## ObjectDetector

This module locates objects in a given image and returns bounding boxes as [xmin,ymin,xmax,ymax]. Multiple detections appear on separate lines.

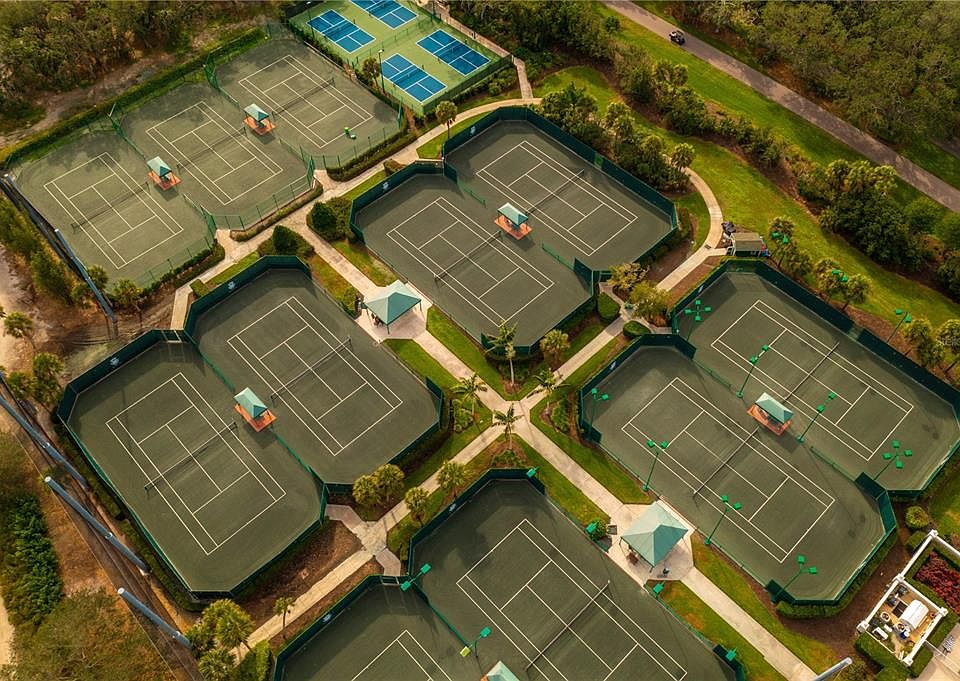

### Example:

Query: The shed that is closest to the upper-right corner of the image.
[731,236,765,259]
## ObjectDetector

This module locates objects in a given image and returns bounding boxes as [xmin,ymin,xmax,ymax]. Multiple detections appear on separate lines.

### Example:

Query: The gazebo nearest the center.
[365,280,422,335]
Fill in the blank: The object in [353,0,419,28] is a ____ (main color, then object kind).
blue sports court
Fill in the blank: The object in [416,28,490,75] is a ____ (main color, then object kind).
blue sports court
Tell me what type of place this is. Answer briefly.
sports ground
